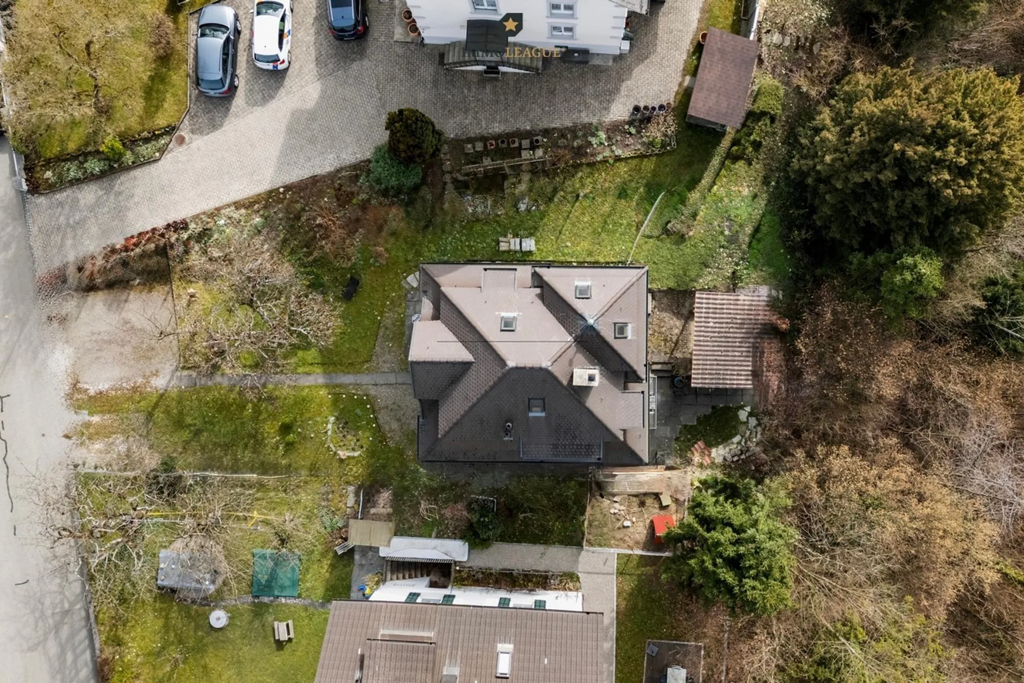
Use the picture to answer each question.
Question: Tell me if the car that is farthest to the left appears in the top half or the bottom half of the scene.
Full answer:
Seen from above, the car that is farthest to the left lies in the top half of the view.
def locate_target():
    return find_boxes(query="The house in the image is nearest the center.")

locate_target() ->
[408,259,659,467]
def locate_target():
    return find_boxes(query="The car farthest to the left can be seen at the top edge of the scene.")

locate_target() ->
[196,7,241,95]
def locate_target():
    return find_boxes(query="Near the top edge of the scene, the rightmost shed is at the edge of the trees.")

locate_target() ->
[683,28,759,138]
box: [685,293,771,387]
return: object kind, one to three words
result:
shed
